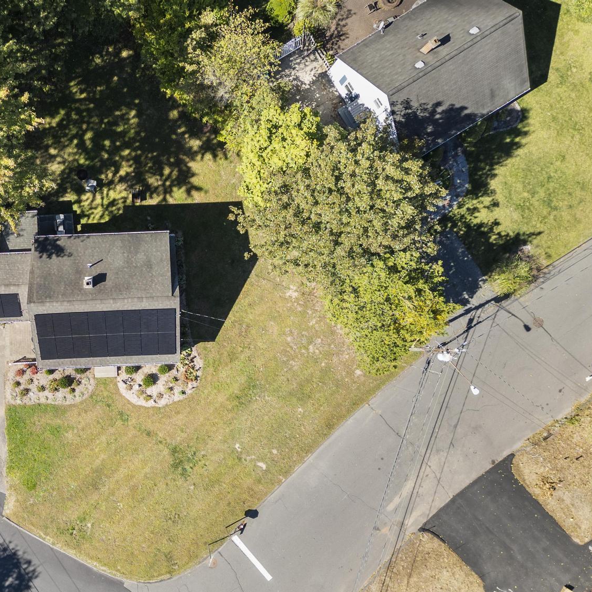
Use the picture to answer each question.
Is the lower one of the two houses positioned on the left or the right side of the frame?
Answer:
left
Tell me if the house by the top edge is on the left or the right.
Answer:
right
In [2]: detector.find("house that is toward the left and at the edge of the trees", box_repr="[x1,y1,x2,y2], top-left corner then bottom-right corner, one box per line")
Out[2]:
[0,211,181,370]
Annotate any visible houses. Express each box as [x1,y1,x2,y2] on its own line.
[0,211,181,370]
[328,0,532,170]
